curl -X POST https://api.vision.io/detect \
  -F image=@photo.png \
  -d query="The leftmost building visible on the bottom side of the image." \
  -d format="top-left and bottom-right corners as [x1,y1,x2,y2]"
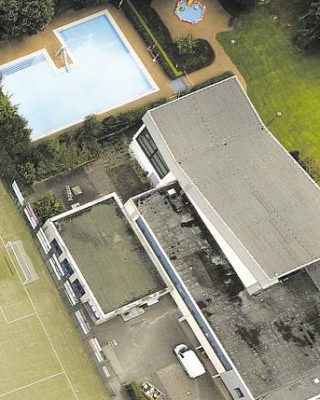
[43,195,171,327]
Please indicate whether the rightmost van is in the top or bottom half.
bottom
